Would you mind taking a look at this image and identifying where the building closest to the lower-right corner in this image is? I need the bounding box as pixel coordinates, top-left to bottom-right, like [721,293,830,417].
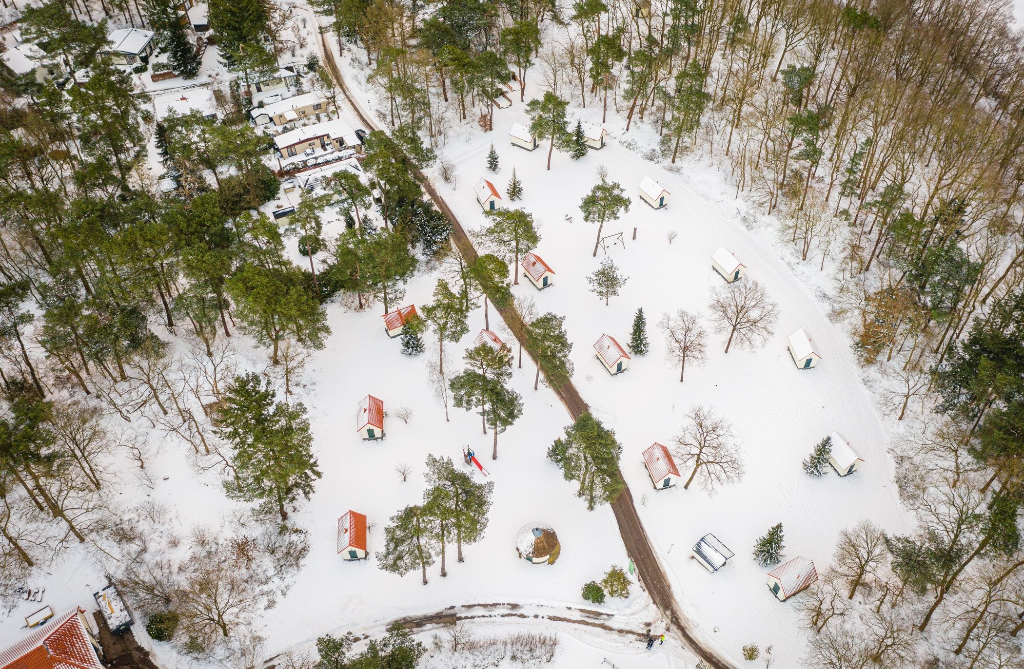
[767,555,820,603]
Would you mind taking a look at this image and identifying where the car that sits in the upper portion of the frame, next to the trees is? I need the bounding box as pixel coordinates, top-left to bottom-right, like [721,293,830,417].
[355,126,372,143]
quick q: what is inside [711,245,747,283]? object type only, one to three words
building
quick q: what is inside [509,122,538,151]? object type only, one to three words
building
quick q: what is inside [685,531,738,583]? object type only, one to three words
shed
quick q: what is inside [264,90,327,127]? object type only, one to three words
house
